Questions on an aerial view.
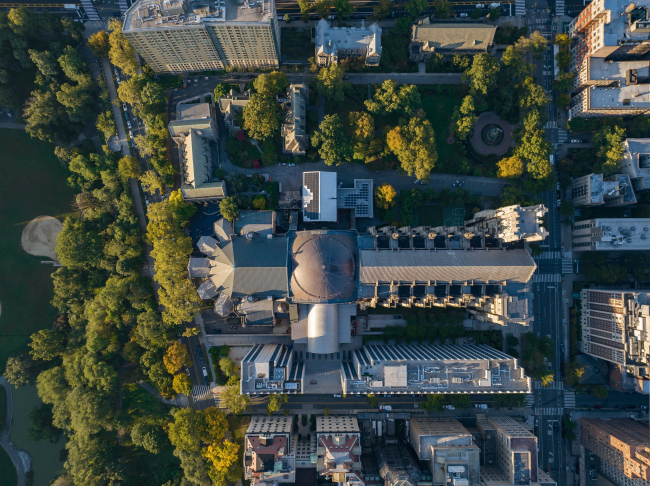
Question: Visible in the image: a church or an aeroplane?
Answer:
church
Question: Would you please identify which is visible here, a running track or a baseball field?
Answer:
baseball field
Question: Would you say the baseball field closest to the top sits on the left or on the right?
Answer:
left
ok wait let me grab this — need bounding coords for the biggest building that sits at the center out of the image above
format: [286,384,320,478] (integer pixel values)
[188,206,545,352]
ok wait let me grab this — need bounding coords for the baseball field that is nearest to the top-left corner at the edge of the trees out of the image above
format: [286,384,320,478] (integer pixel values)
[22,216,60,258]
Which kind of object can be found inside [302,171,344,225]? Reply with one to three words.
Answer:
building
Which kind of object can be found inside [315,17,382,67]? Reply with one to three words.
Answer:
house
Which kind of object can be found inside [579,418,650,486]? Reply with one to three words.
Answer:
building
